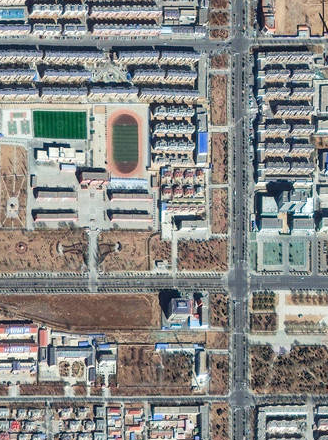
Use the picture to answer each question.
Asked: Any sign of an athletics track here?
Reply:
Yes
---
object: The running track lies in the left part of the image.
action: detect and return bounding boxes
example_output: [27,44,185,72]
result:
[105,110,143,177]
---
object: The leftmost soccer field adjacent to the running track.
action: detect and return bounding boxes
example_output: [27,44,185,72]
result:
[32,110,87,139]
